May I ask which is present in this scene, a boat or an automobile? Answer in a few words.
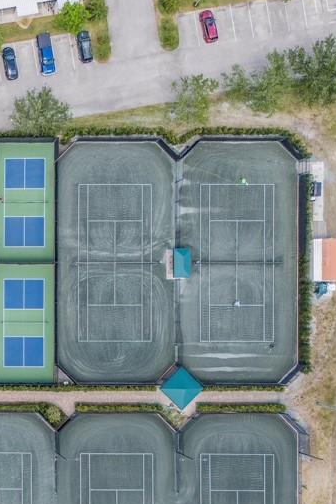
automobile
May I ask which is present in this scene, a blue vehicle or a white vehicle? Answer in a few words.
blue vehicle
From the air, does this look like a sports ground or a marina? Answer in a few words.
sports ground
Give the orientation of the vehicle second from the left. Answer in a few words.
from top to bottom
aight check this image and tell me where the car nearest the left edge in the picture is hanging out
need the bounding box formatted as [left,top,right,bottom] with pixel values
[2,46,19,80]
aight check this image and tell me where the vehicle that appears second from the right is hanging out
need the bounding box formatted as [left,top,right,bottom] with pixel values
[77,29,95,63]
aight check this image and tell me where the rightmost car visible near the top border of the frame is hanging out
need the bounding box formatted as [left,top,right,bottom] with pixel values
[201,9,220,43]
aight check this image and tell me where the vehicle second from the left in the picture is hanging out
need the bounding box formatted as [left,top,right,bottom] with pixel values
[38,32,58,75]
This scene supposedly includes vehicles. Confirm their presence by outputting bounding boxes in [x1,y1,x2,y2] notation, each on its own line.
[77,29,95,63]
[38,32,58,75]
[2,46,19,80]
[201,9,220,43]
